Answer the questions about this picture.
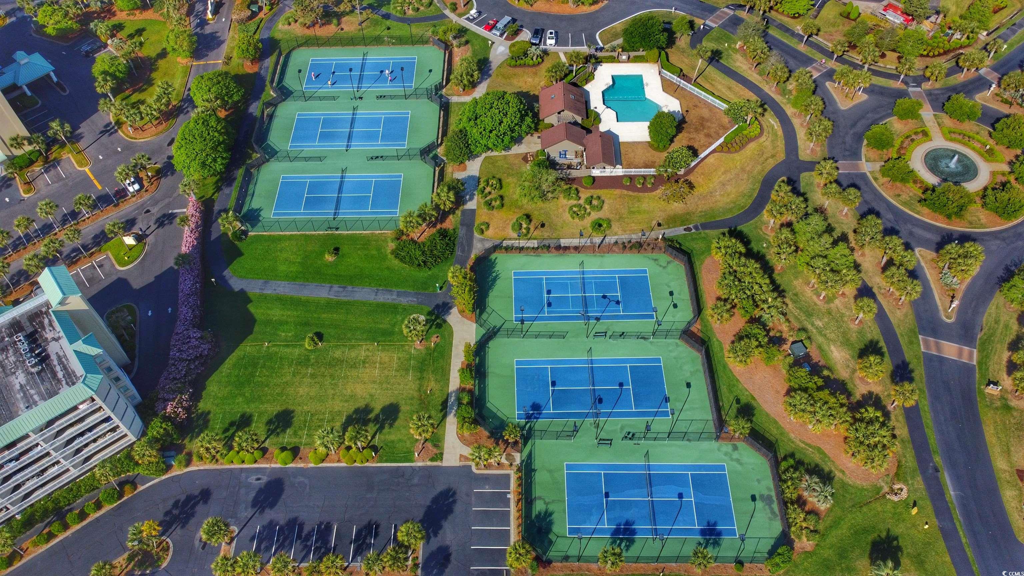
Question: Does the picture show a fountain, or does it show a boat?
fountain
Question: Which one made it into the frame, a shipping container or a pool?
pool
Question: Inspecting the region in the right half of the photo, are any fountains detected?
Yes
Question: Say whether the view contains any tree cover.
Yes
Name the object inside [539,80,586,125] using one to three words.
building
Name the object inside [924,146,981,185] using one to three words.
fountain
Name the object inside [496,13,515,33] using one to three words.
vehicle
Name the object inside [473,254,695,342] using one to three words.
tennis court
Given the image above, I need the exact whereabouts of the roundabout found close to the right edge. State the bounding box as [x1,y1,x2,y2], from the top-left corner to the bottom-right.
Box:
[825,87,1024,262]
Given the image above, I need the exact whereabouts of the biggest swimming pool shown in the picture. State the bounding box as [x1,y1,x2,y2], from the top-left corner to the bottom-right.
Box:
[582,62,683,143]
